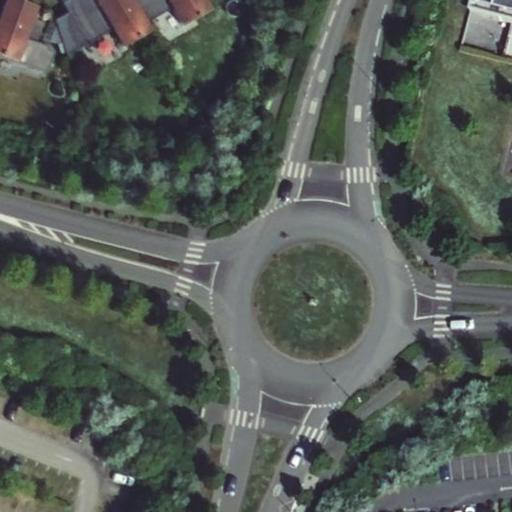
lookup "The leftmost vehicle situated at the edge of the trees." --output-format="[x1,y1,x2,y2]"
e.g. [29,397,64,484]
[2,402,16,422]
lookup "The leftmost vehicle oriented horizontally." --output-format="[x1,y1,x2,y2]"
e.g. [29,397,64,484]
[112,473,136,486]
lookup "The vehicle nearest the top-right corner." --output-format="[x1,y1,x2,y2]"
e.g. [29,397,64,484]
[279,179,292,200]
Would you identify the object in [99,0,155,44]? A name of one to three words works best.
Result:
house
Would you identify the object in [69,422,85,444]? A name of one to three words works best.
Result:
car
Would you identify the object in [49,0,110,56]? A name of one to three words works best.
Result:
house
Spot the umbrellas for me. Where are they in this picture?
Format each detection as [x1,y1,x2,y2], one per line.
[98,40,112,53]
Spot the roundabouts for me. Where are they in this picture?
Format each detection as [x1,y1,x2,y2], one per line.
[218,205,410,397]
